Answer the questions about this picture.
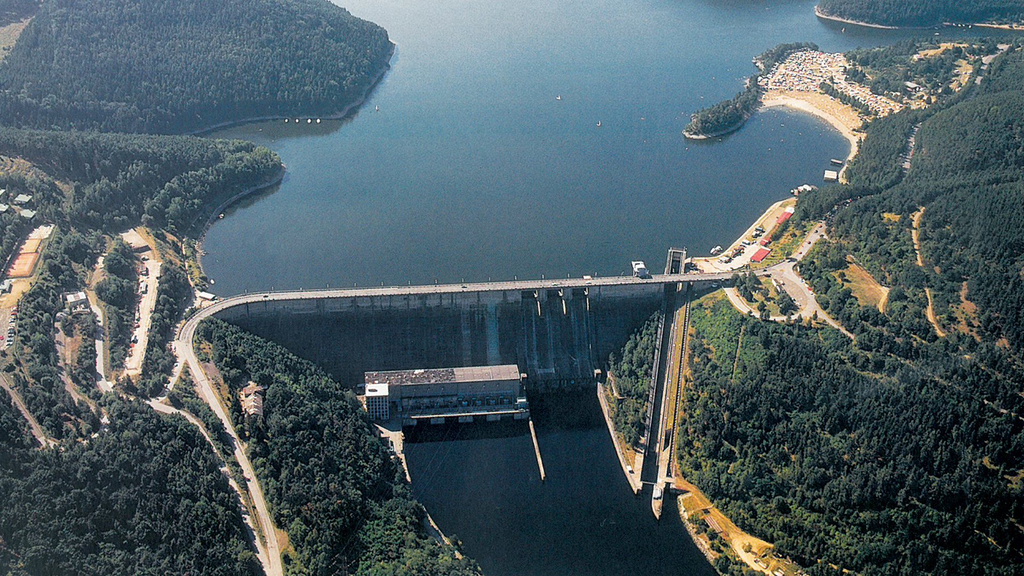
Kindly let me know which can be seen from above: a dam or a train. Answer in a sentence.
There is a dam in the scene.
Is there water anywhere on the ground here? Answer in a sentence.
Yes, some water is visible.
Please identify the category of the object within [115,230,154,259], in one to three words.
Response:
building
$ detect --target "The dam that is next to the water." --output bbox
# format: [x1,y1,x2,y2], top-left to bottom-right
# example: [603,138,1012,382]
[175,268,747,399]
